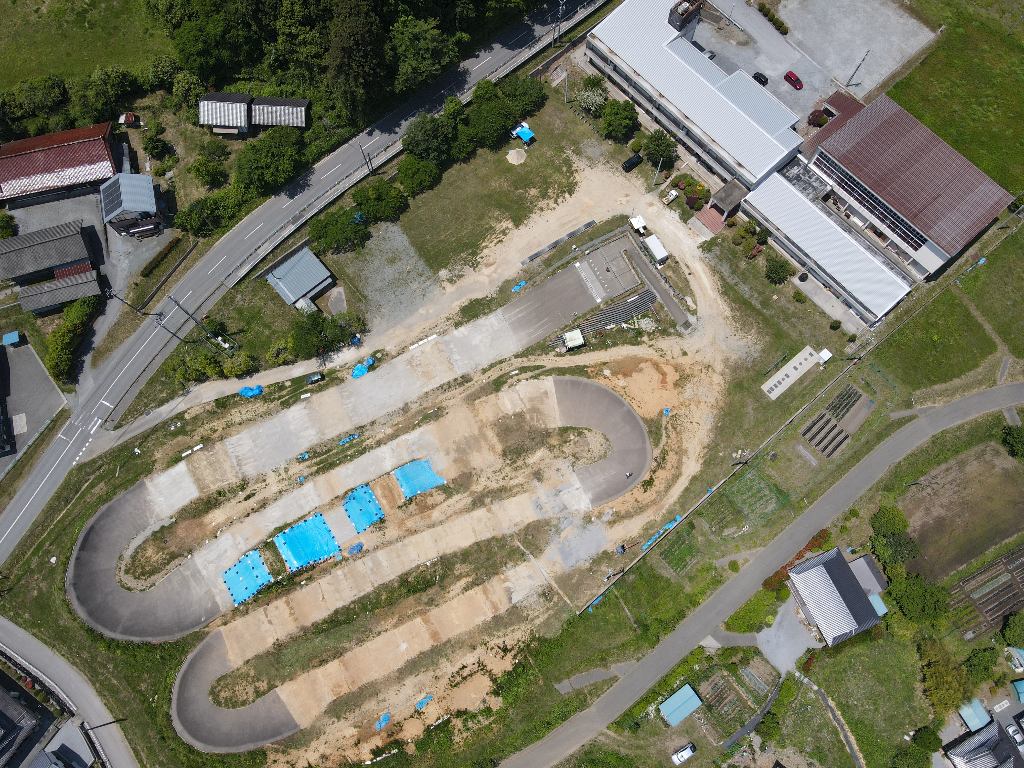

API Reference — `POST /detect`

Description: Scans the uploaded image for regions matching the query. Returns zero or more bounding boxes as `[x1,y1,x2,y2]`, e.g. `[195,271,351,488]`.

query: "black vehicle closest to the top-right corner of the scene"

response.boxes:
[752,71,769,86]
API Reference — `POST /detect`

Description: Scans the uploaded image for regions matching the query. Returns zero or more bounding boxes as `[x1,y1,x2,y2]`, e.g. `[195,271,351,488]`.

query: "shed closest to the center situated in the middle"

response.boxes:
[563,329,584,350]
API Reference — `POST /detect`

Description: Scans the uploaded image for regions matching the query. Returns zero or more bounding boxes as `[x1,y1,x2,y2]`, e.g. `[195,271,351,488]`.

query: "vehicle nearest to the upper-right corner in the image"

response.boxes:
[784,70,804,90]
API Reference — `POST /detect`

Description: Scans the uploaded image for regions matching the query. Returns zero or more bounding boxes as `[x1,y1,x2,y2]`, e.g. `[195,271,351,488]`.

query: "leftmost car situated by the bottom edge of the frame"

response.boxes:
[670,741,699,768]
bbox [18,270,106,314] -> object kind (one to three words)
barn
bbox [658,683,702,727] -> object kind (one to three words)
building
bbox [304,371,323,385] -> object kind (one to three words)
car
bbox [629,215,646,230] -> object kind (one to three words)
gazebo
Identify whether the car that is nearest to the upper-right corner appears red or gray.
red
